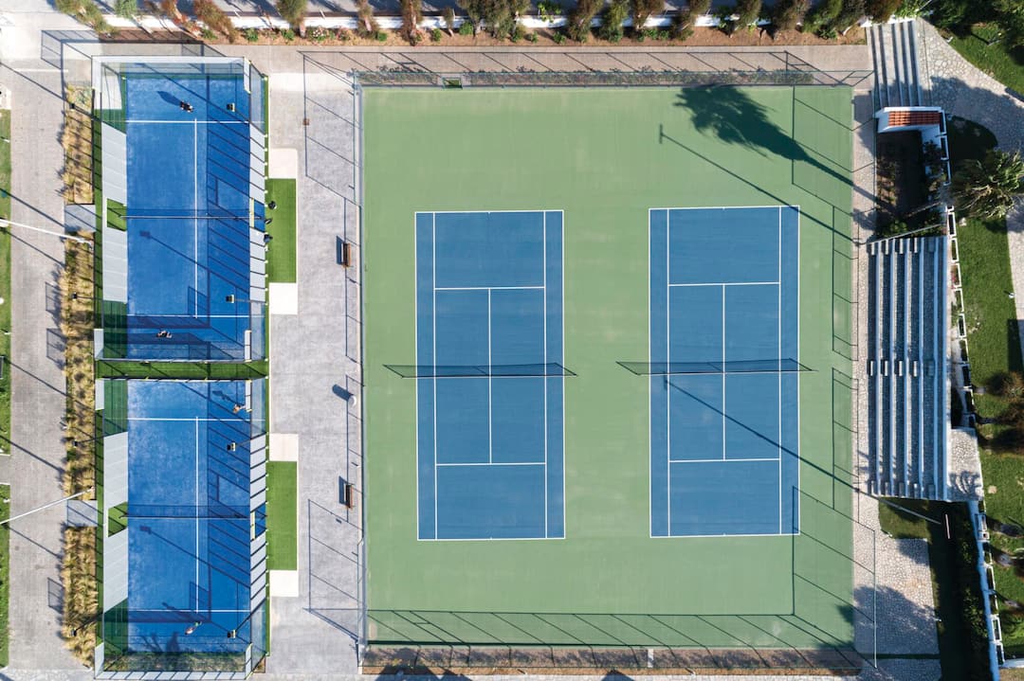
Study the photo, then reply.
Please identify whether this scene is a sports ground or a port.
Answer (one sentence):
It's a sports ground.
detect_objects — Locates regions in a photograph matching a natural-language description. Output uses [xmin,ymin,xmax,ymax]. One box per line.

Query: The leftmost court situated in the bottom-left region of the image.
[95,377,272,680]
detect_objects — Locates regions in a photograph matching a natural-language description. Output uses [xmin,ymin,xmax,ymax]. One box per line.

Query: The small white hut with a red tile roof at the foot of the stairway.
[870,108,932,137]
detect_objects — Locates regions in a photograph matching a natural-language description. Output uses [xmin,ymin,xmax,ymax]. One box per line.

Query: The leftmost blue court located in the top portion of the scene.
[93,56,269,361]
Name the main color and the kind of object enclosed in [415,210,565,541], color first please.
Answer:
blue tennis court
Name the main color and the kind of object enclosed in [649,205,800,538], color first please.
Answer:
blue tennis court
